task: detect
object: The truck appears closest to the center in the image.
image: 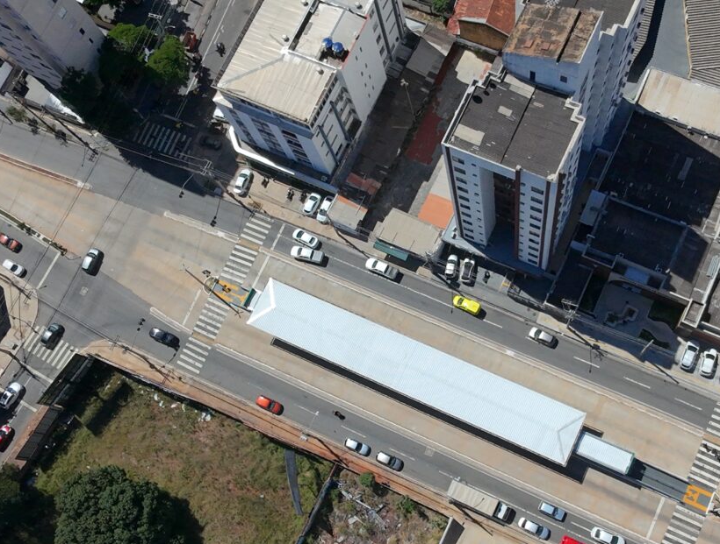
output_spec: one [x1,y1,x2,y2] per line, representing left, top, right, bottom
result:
[365,258,399,281]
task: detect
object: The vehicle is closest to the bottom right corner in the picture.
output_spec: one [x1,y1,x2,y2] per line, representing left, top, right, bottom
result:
[589,527,626,544]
